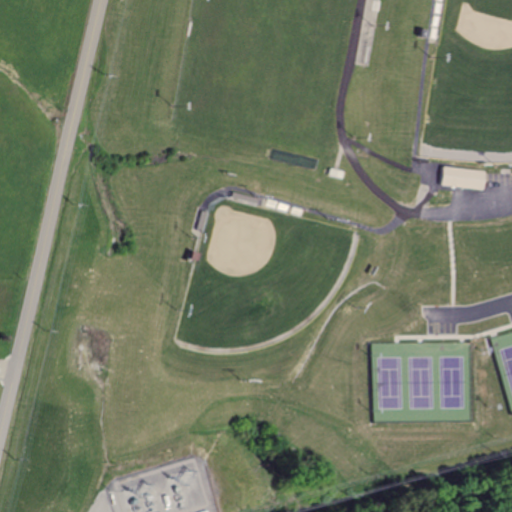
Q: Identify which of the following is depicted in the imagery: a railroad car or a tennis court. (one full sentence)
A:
There is a tennis court in the scene.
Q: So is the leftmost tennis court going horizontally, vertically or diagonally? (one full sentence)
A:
I'd say the leftmost tennis court is aligned vertically in the picture.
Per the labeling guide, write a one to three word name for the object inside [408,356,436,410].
tennis court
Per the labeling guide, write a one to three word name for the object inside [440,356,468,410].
tennis court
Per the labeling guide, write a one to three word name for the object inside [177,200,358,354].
sports field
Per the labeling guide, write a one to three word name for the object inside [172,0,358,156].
sports field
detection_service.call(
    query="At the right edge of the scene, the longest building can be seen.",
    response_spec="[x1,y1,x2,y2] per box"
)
[438,166,486,190]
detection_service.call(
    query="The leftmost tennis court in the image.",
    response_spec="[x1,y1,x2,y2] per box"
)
[376,356,402,410]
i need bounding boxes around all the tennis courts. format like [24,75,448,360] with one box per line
[408,356,436,410]
[440,356,468,410]
[500,347,512,394]
[376,356,402,410]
